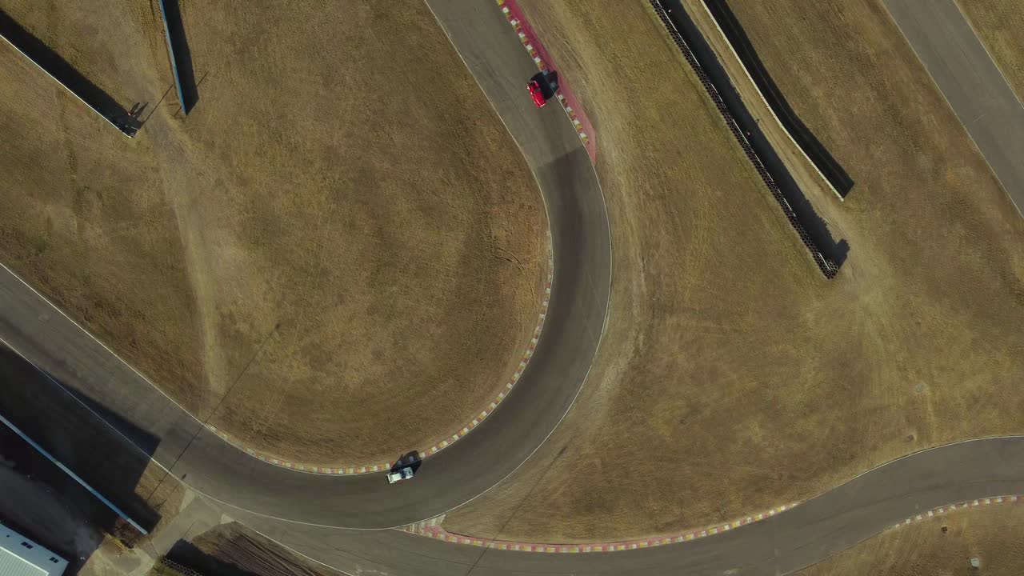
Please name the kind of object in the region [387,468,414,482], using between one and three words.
car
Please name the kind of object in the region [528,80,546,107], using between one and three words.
car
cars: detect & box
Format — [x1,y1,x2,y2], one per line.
[528,80,546,107]
[387,468,414,482]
